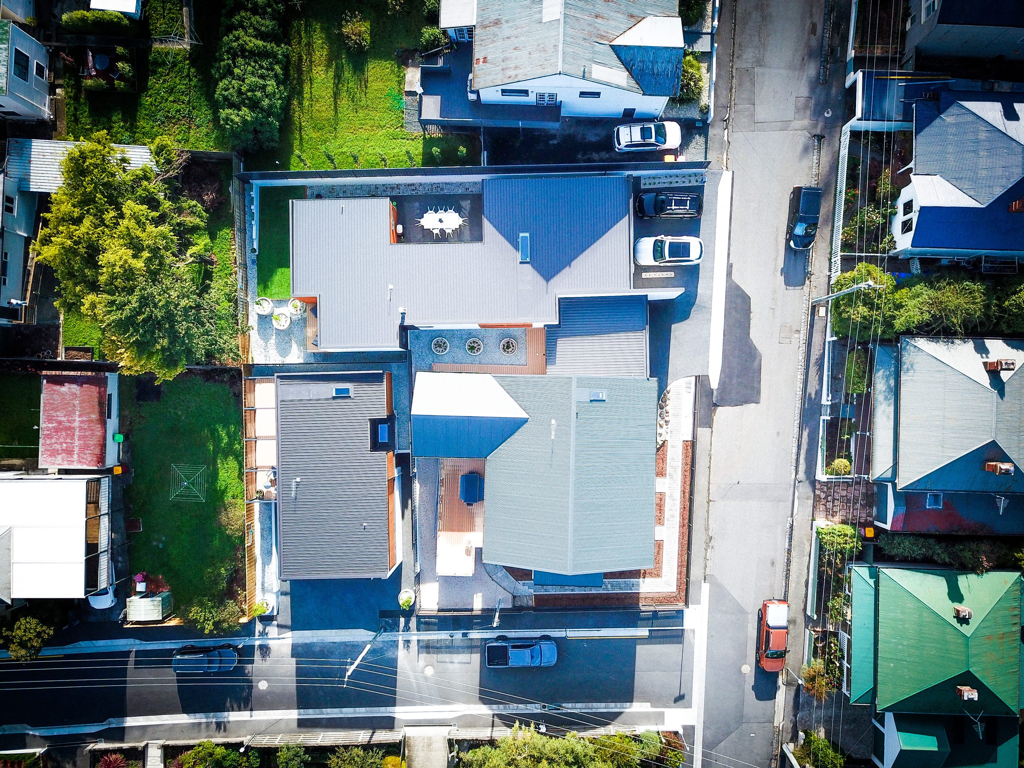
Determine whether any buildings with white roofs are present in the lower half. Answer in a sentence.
Yes, you'll find a building with a white roof in the lower half.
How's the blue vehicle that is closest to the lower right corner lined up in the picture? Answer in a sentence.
From this overhead view, the blue vehicle that is closest to the lower right corner appears to run from left to right.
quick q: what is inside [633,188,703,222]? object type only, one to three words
car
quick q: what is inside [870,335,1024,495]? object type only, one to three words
house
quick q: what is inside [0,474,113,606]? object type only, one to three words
house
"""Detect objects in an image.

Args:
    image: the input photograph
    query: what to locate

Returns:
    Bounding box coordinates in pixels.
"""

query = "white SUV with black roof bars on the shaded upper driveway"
[609,117,681,156]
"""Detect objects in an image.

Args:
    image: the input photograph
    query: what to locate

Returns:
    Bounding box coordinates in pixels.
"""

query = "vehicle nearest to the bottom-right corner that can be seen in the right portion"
[756,596,793,672]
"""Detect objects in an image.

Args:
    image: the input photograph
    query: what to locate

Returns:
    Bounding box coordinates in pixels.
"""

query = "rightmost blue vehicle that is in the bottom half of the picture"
[486,631,557,668]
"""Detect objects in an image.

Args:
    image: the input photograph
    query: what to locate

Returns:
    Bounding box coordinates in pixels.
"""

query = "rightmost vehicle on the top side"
[785,181,824,256]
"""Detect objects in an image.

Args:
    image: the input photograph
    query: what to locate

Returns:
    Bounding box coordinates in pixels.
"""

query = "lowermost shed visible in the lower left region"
[113,590,173,623]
